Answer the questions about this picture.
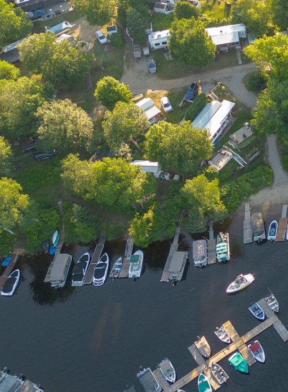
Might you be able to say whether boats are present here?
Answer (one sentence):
Yes, there's a boat down there.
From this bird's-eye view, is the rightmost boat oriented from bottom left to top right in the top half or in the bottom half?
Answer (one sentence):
Seen from above, the rightmost boat oriented from bottom left to top right lies in the bottom half of the view.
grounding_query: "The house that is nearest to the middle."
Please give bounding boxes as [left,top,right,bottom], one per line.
[134,97,165,128]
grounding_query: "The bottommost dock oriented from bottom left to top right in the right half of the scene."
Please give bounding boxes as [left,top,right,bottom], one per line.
[158,314,280,392]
